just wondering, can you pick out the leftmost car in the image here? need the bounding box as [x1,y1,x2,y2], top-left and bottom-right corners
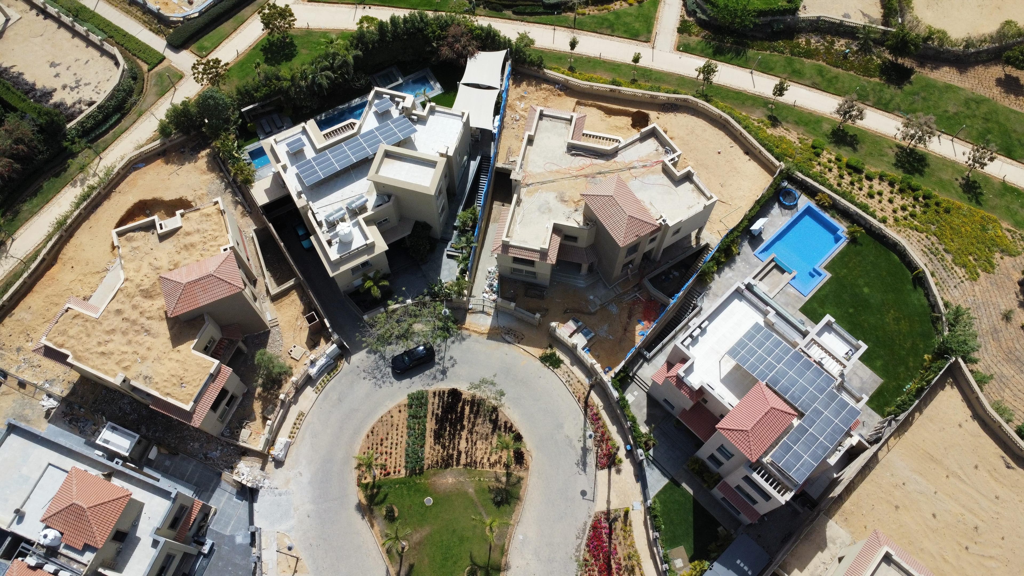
[290,219,317,256]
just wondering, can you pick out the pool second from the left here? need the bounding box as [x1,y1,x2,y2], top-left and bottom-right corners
[315,95,372,135]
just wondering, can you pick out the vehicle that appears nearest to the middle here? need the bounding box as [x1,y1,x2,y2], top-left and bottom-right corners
[389,341,439,377]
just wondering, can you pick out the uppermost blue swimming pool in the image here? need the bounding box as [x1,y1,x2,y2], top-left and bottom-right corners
[382,71,441,99]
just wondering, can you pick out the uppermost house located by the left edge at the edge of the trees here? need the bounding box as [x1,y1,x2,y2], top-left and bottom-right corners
[27,197,265,434]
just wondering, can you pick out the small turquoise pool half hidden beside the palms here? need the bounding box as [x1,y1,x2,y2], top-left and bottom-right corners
[243,143,276,174]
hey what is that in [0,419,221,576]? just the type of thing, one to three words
house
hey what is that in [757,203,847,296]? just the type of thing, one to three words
swimming pool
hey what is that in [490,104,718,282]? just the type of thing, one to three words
house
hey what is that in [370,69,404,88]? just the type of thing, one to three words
swimming pool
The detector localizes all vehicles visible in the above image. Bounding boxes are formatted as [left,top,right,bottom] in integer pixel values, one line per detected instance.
[389,341,439,377]
[290,219,317,256]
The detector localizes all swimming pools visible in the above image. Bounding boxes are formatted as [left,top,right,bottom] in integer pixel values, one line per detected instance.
[370,69,404,88]
[382,71,441,99]
[243,143,276,174]
[315,95,372,135]
[757,203,847,296]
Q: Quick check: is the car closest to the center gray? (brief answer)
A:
No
